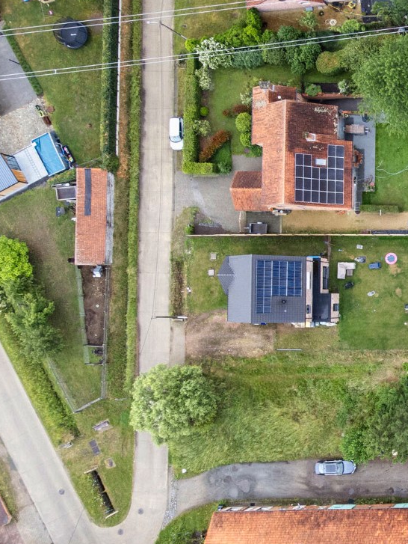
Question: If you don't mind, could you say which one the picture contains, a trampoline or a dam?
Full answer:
Looking from above, you can make out a trampoline.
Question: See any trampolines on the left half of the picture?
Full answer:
Yes, on the left half of the picture there is a trampoline.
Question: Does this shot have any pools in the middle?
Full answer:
No, no pool appears in the middle.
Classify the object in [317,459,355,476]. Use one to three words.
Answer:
car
